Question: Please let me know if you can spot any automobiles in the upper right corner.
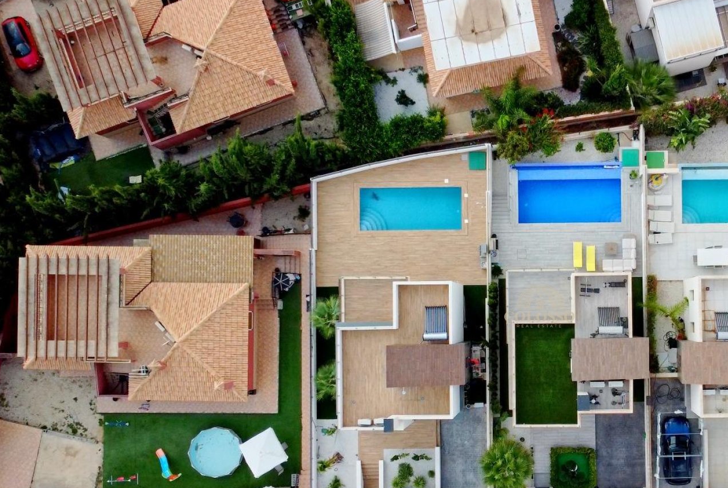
No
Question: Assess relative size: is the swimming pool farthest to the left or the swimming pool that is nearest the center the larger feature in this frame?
the swimming pool that is nearest the center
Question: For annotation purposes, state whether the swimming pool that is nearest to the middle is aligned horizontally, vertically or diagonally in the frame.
horizontally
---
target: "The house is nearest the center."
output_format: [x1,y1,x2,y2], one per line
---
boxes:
[335,276,471,446]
